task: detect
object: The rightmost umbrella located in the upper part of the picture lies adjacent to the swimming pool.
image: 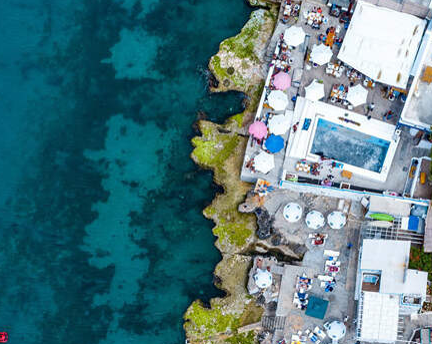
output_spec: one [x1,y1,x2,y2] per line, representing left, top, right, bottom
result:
[348,84,367,106]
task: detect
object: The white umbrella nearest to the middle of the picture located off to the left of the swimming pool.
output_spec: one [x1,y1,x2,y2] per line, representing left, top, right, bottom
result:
[254,153,276,175]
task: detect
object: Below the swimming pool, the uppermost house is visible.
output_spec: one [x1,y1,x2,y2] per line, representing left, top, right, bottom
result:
[361,198,412,220]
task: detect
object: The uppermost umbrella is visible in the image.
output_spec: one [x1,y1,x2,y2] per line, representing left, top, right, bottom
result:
[285,26,306,47]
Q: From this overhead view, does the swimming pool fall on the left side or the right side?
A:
right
